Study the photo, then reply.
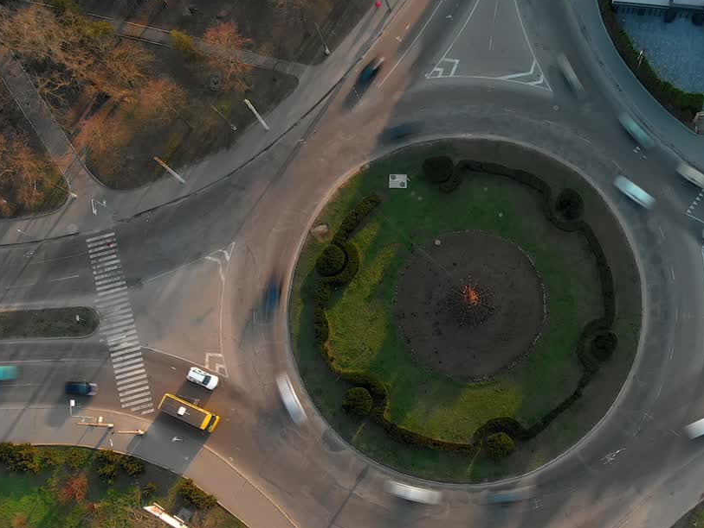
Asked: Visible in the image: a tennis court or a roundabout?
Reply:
roundabout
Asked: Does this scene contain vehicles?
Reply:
Yes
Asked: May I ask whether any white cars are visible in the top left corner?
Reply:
No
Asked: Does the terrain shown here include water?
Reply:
No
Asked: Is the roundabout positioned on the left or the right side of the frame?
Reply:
right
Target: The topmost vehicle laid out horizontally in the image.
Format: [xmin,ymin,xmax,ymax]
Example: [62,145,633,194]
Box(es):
[383,121,417,140]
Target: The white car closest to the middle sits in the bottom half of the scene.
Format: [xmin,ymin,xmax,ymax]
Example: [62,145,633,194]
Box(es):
[275,377,306,422]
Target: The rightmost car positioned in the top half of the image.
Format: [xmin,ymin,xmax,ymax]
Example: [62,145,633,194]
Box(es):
[678,163,704,189]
